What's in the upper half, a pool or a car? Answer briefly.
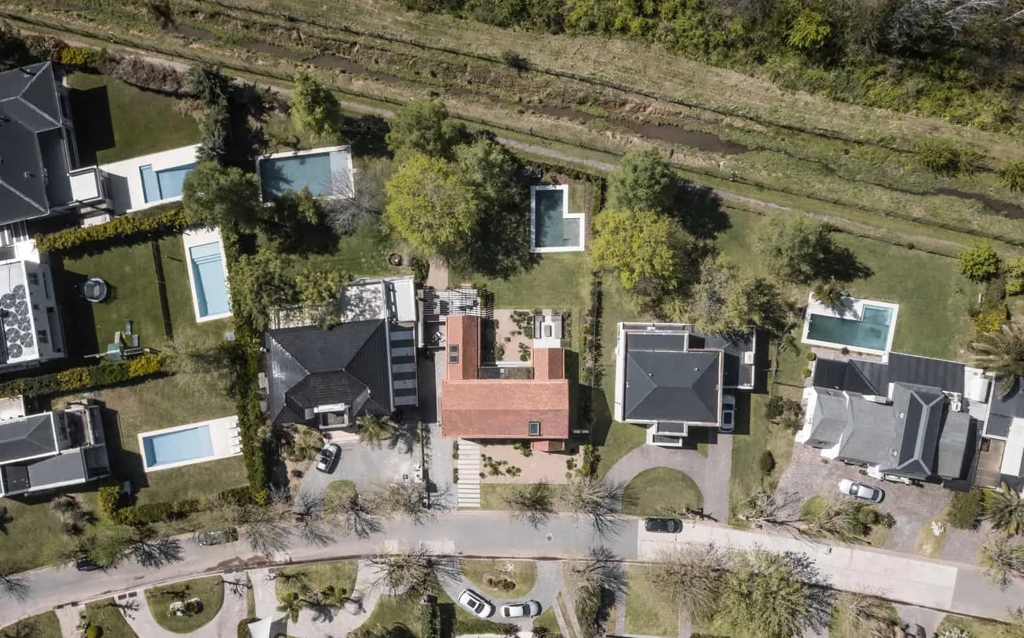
pool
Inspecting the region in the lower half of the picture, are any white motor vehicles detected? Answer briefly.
Yes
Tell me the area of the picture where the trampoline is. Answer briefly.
left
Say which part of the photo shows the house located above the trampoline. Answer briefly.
top left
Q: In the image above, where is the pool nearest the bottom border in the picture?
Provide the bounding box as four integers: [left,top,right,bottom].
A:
[138,415,244,472]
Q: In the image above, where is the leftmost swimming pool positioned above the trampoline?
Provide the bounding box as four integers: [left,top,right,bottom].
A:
[99,144,206,217]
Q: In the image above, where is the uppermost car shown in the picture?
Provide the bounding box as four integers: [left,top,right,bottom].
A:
[719,396,737,433]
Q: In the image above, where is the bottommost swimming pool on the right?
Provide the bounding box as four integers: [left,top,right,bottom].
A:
[801,292,899,355]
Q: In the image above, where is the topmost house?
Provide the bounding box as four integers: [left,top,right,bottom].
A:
[0,61,117,231]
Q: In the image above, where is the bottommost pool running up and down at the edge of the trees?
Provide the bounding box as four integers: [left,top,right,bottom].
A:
[182,226,232,322]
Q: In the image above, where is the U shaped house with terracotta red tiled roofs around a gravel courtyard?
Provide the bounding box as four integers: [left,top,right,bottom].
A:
[442,315,569,450]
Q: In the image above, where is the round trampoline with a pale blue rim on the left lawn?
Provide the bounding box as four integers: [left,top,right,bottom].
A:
[83,278,111,301]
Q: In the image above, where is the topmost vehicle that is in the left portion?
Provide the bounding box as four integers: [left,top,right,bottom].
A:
[316,441,341,473]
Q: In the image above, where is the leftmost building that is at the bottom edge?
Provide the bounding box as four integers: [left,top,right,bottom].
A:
[249,608,293,638]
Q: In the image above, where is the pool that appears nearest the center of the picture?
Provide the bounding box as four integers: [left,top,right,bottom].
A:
[531,185,585,253]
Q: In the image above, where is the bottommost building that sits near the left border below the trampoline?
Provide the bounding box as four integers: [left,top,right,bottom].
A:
[0,394,112,497]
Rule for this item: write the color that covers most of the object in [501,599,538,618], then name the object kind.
white car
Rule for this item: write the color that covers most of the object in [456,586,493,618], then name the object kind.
white car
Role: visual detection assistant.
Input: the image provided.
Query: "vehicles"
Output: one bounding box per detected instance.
[644,517,681,534]
[501,599,538,618]
[902,620,922,638]
[316,441,341,473]
[75,552,109,572]
[456,586,493,618]
[838,478,883,502]
[719,396,737,433]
